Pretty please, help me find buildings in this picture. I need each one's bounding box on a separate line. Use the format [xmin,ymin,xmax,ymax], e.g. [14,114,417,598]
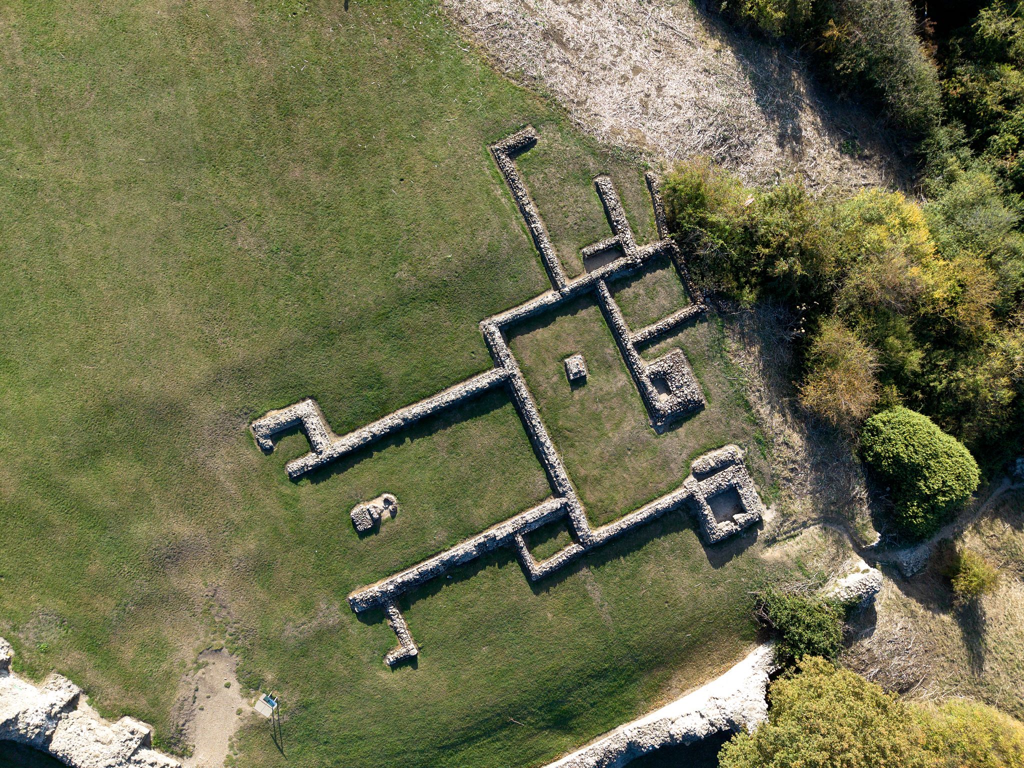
[252,127,763,665]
